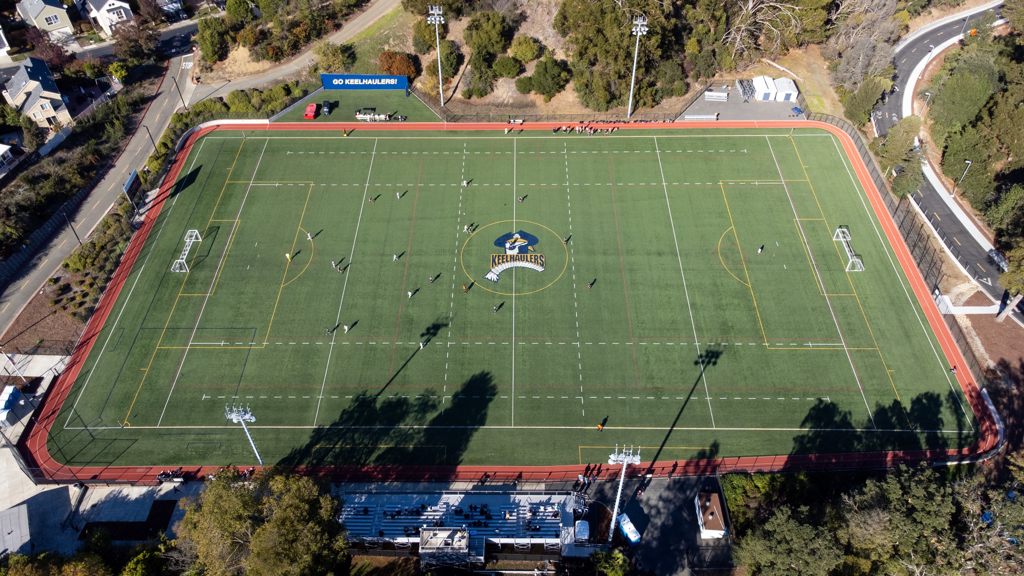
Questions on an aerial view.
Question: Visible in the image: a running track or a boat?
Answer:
running track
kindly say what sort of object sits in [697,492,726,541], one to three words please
shed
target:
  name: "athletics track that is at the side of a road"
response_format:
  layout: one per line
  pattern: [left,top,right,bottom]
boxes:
[22,120,998,483]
